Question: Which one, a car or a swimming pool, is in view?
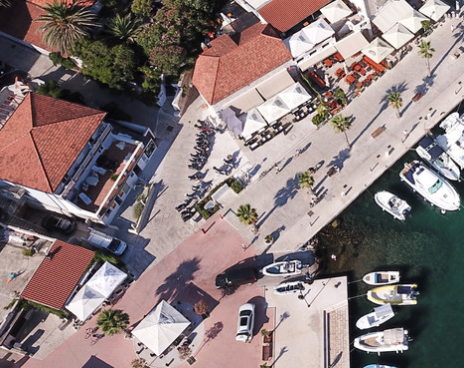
car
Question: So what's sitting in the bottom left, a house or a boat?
house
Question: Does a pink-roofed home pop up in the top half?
Yes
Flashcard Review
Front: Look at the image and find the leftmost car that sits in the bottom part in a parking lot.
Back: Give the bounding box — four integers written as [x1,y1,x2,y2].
[39,216,79,237]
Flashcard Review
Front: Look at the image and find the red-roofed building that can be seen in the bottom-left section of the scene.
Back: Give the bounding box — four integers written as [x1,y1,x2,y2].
[20,239,104,318]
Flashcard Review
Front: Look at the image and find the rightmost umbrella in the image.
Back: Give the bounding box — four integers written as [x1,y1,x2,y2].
[419,0,451,23]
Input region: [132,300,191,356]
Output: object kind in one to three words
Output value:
umbrella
